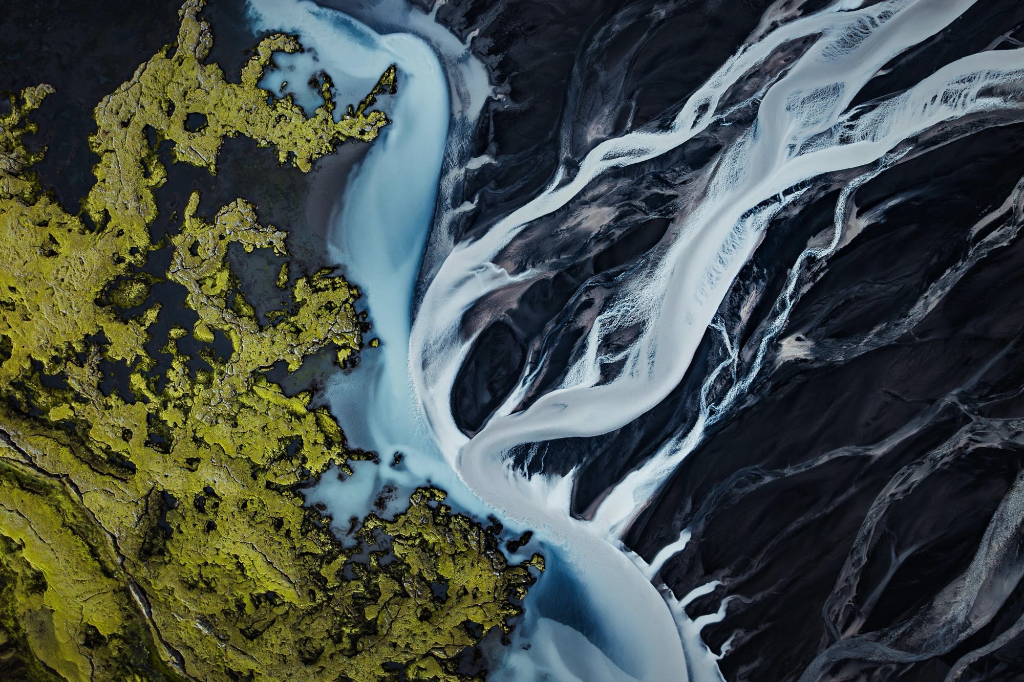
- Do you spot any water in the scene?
Yes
